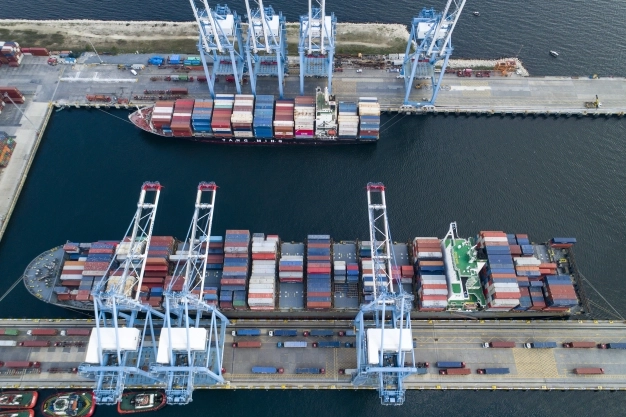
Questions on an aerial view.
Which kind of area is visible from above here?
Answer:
port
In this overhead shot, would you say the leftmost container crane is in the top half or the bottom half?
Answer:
bottom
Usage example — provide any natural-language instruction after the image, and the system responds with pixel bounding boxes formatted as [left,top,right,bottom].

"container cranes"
[343,179,422,400]
[147,179,238,400]
[244,0,290,103]
[295,0,337,103]
[190,0,248,102]
[395,0,461,105]
[75,179,182,400]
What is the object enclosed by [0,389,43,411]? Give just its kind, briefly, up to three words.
boat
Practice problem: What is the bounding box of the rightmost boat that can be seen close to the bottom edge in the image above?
[116,389,166,413]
